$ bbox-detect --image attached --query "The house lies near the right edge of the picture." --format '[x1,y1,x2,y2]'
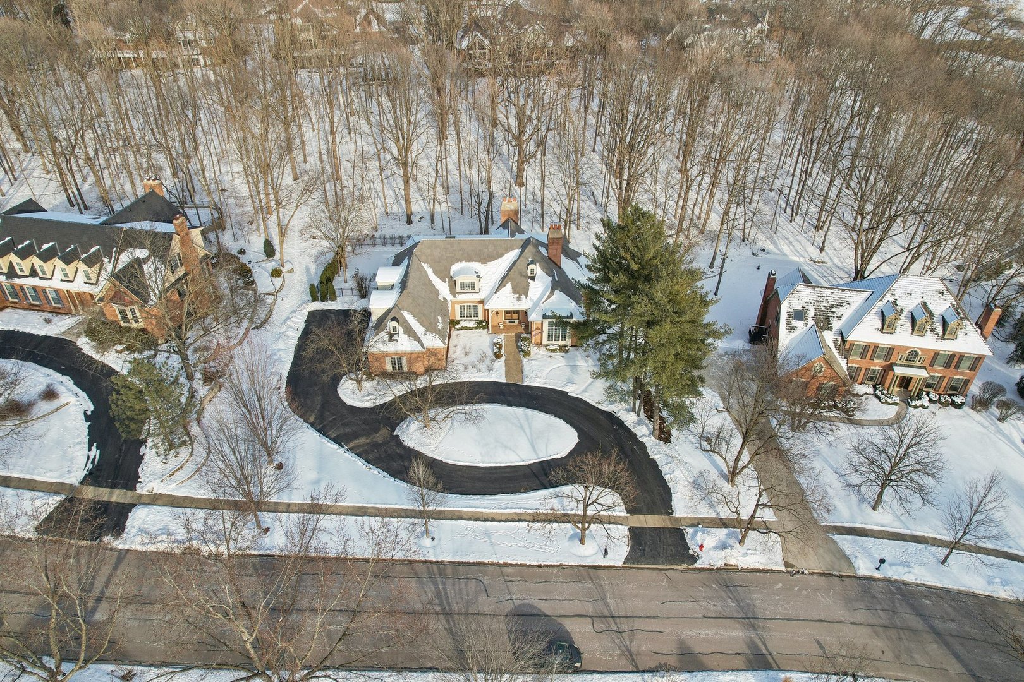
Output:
[744,252,994,400]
